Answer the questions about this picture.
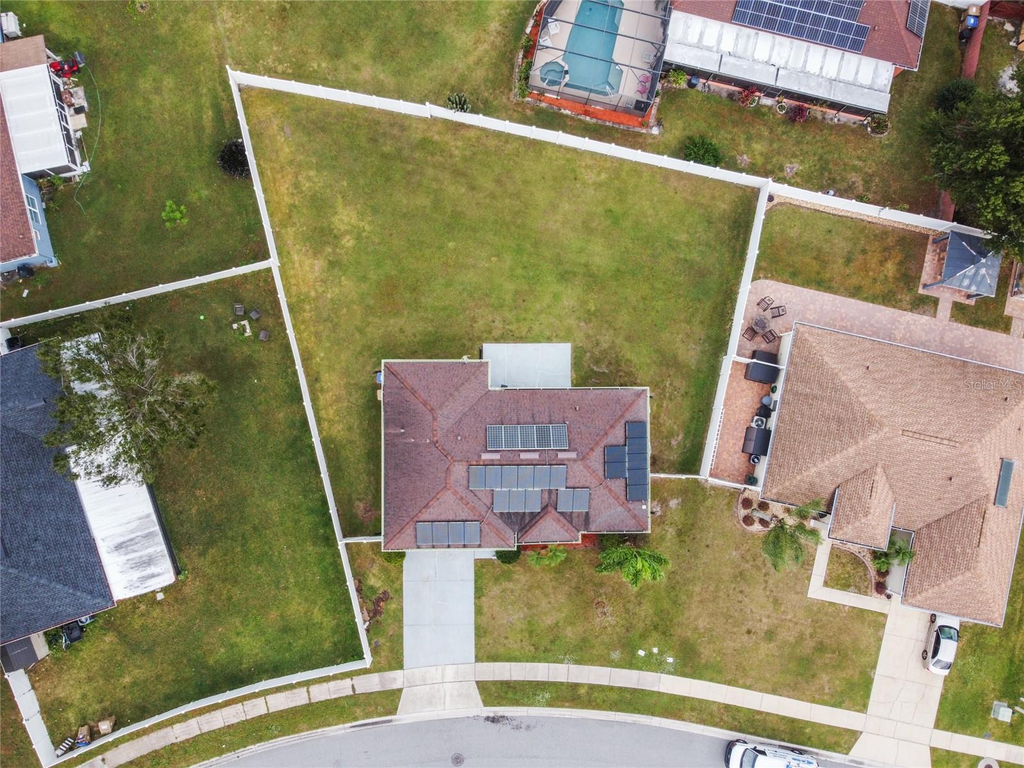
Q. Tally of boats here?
0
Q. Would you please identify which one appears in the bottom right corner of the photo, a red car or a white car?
white car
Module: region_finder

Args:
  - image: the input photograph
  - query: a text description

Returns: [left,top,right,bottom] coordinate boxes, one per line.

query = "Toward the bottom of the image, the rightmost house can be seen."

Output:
[755,320,1024,628]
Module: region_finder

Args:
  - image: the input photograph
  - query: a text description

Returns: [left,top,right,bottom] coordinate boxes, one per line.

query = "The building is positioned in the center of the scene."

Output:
[380,351,652,554]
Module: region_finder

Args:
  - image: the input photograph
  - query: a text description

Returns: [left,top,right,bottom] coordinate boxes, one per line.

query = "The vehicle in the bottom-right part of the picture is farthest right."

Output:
[927,615,971,678]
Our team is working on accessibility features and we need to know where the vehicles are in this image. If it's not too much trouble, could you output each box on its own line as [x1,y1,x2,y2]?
[927,615,971,678]
[729,740,821,768]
